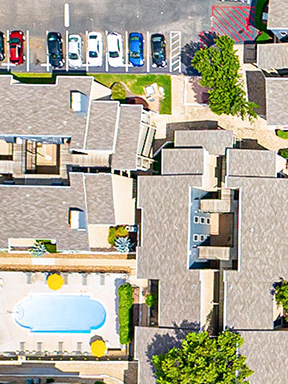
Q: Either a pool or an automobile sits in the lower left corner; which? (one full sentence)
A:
The feature located in the lower left corner is a pool.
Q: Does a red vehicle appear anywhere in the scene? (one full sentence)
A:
Yes, I can see a red vehicle in this picture.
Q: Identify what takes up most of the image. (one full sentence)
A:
The largest share of the image is taken up by buildings.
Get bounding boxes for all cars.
[6,30,27,65]
[127,31,146,67]
[0,30,7,61]
[85,31,105,67]
[106,31,125,67]
[150,32,168,68]
[66,33,85,69]
[46,32,66,68]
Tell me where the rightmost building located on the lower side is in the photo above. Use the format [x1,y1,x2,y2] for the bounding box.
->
[134,130,288,384]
